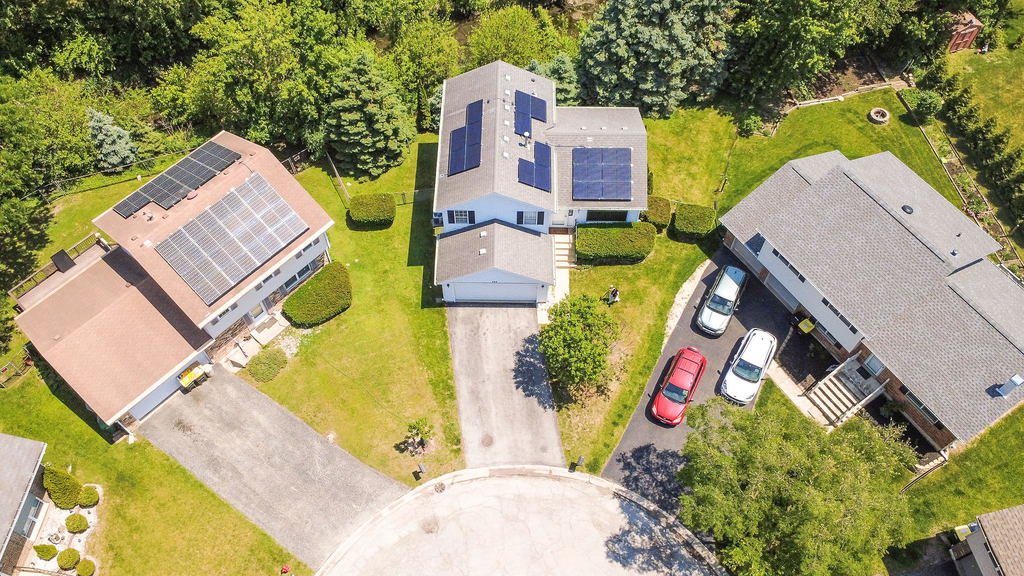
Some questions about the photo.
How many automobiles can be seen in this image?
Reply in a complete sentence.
There are 3 automobiles in the image.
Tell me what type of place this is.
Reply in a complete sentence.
This image shows a residential area.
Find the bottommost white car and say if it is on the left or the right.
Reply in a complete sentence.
The bottommost white car appears in the right half of the scene.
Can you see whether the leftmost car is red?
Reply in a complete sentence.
Yes, the leftmost car is red.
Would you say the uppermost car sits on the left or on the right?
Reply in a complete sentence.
It is on the right.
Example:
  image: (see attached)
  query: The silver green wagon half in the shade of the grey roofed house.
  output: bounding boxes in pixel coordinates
[696,261,750,340]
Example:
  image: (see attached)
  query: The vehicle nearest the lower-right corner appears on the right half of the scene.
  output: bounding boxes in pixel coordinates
[720,326,779,409]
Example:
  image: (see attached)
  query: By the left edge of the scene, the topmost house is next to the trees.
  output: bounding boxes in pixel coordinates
[7,132,336,450]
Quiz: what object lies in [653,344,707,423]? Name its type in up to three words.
car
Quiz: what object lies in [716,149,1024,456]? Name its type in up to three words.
house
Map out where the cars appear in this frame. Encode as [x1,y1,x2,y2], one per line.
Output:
[720,326,779,409]
[696,261,750,340]
[653,344,707,423]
